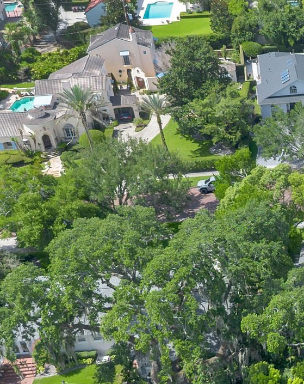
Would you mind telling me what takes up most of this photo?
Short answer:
trees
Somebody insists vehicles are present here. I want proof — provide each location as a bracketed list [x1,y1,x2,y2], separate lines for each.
[121,109,136,119]
[194,179,230,199]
